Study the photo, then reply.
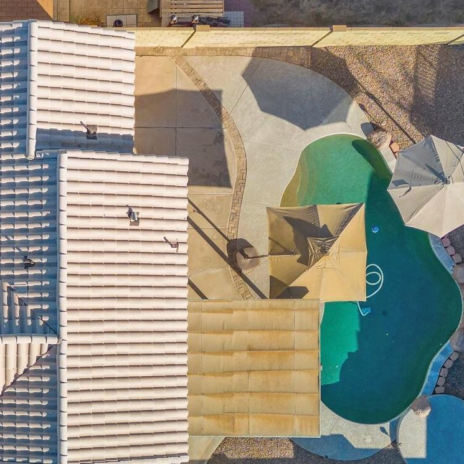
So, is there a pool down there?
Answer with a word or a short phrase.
Yes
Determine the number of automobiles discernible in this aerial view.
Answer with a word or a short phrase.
0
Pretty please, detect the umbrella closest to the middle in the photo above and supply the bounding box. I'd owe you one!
[229,204,366,302]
